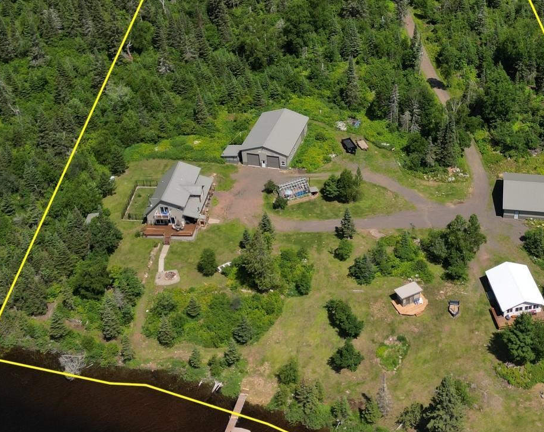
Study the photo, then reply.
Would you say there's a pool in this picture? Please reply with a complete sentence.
No, there is no pool in the image.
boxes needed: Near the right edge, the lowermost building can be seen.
[486,266,544,316]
